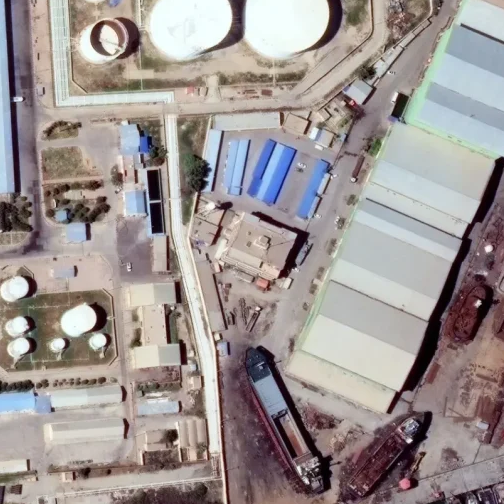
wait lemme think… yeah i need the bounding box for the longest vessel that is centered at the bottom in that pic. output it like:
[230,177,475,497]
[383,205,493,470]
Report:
[245,346,328,495]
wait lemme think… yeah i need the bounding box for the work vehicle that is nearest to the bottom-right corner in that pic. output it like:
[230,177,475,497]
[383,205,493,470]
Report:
[406,450,427,479]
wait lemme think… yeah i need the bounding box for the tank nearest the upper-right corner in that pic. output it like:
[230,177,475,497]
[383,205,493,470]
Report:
[242,0,330,61]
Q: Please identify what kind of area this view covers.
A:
industrial area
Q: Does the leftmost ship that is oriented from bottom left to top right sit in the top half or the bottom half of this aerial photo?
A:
bottom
